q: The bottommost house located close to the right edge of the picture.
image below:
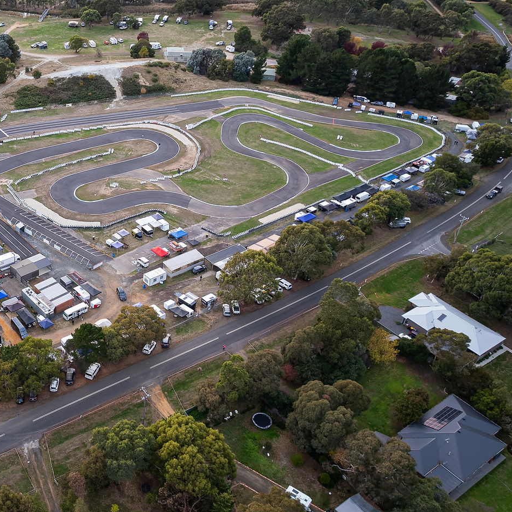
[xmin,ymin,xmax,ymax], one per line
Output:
[398,393,508,501]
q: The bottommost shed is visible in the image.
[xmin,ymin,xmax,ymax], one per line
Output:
[336,493,383,512]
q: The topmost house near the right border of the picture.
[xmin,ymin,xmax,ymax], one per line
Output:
[401,292,506,362]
